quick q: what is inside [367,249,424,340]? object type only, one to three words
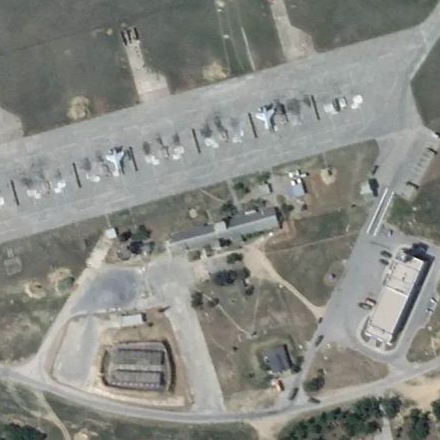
building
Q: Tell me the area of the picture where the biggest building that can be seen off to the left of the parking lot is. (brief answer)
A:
center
